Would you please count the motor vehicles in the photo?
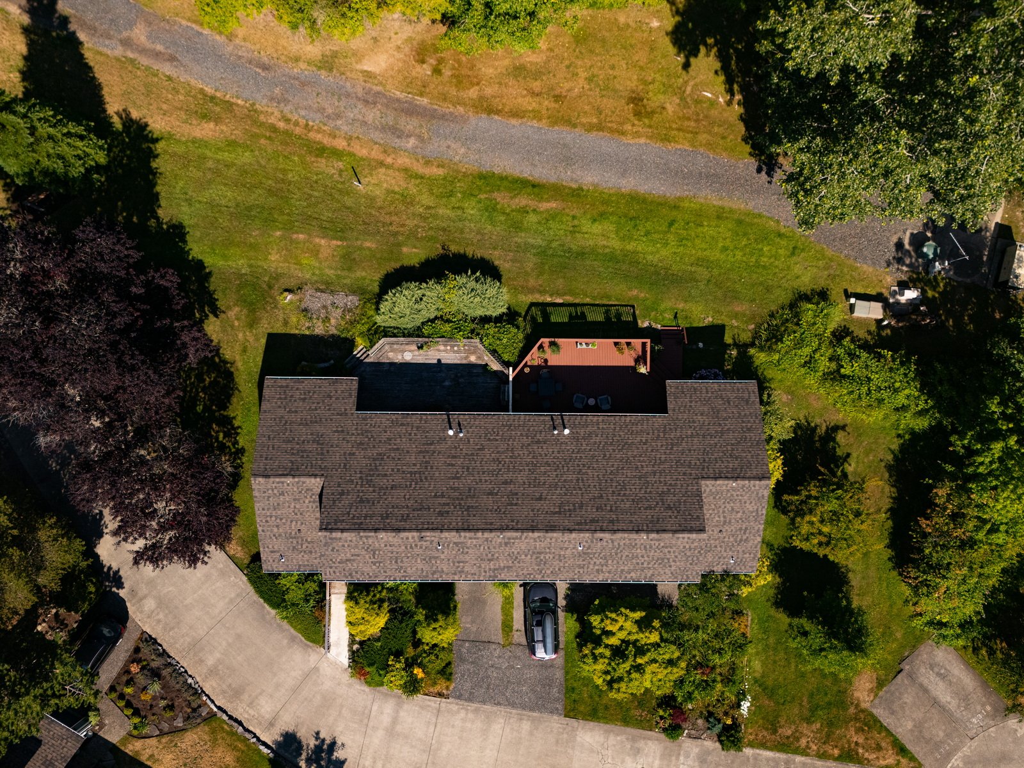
two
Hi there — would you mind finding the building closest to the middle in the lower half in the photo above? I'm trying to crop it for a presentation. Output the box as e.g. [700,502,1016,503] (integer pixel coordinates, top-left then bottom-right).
[249,374,771,586]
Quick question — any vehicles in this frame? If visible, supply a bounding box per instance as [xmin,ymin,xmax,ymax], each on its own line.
[520,585,563,662]
[65,597,140,681]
